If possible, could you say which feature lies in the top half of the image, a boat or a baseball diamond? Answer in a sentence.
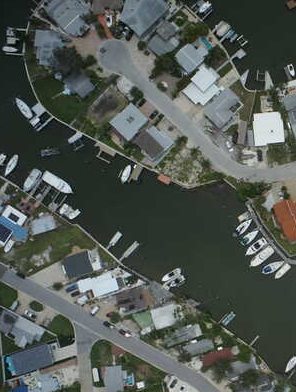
You can see a boat in the top half of the image.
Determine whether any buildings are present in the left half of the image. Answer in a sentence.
Yes, a building is visible in the left half of the image.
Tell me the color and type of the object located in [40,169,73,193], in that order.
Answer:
white boat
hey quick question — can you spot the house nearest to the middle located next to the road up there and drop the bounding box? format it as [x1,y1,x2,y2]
[135,125,176,164]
